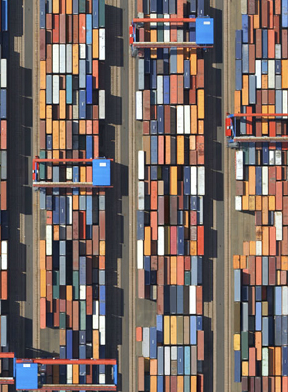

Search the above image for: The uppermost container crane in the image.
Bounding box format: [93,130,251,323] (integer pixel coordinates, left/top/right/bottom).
[129,17,214,60]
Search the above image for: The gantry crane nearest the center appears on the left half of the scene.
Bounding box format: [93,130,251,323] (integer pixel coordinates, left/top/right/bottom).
[29,156,113,198]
